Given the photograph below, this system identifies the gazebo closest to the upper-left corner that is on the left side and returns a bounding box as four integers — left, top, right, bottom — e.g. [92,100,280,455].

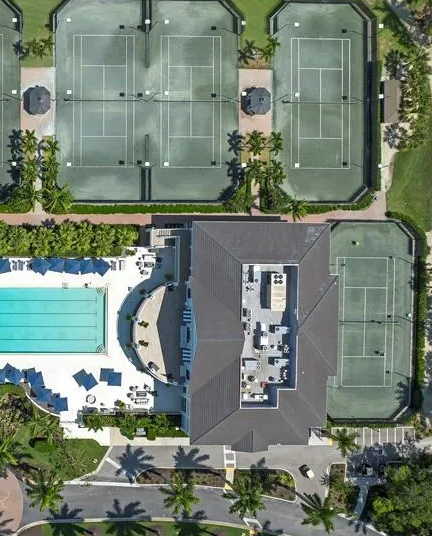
[25,88,50,114]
